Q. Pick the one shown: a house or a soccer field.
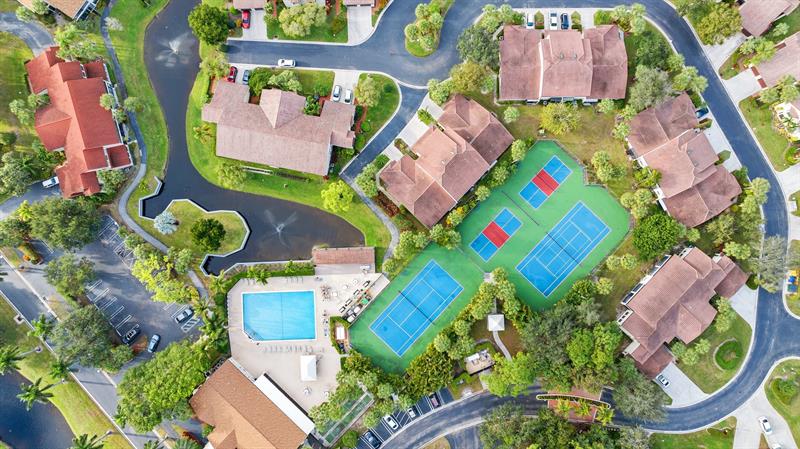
house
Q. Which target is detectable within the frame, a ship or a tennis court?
tennis court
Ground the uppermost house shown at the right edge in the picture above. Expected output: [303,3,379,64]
[734,0,795,37]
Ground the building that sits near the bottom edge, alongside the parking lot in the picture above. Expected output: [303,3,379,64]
[188,355,325,449]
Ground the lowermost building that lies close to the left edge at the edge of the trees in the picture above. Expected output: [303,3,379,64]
[16,44,139,197]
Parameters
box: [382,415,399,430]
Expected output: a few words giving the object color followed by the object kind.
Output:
white car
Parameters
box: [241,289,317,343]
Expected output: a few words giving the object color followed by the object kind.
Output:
blue swimming pool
